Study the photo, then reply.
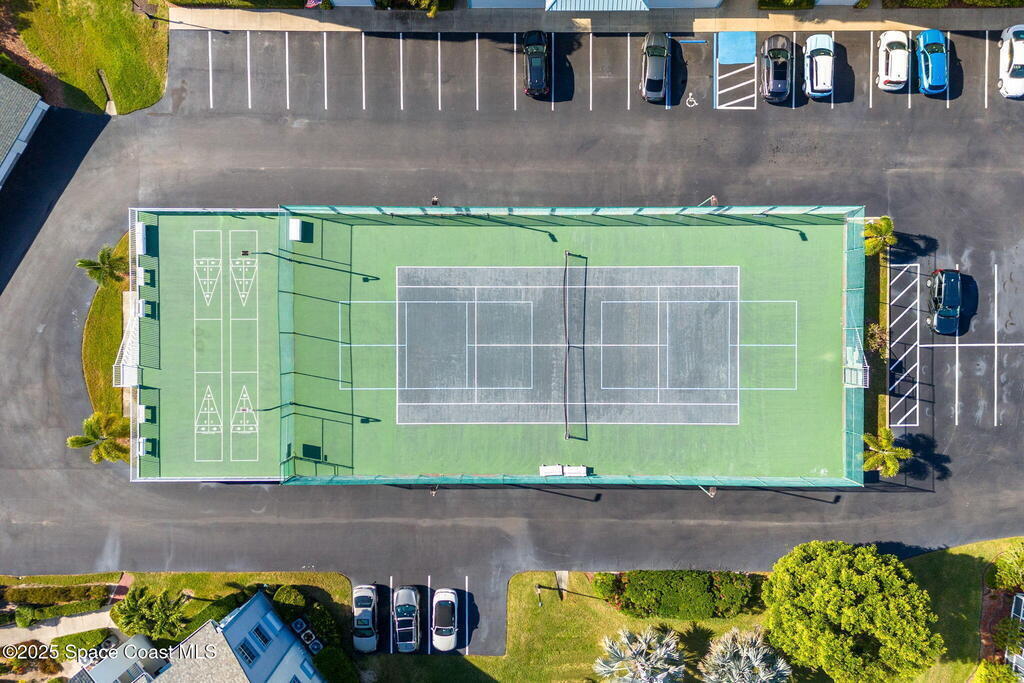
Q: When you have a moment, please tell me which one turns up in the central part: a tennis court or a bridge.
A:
tennis court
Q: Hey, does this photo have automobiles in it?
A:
Yes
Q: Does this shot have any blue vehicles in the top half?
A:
Yes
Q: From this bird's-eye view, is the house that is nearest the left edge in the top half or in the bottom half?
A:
top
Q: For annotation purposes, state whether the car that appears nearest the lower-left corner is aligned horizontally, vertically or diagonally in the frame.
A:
vertically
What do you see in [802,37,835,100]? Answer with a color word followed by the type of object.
white car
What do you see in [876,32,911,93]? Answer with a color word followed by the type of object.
white car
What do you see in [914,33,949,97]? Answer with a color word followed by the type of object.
blue car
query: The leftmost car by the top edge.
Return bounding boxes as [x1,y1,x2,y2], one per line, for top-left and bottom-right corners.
[521,32,550,99]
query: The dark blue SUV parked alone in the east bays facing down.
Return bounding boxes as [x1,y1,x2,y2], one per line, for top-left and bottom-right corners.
[926,270,963,335]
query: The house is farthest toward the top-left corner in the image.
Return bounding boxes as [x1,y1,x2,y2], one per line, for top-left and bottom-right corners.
[0,73,48,186]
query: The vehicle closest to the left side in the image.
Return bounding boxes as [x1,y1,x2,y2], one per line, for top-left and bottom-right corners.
[350,584,379,651]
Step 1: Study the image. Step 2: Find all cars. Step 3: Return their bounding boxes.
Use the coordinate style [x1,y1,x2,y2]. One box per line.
[998,28,1024,98]
[876,32,911,93]
[350,584,379,651]
[391,585,421,654]
[802,37,835,100]
[431,587,459,651]
[521,32,550,99]
[760,37,793,104]
[914,33,949,97]
[926,270,963,335]
[641,34,671,104]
